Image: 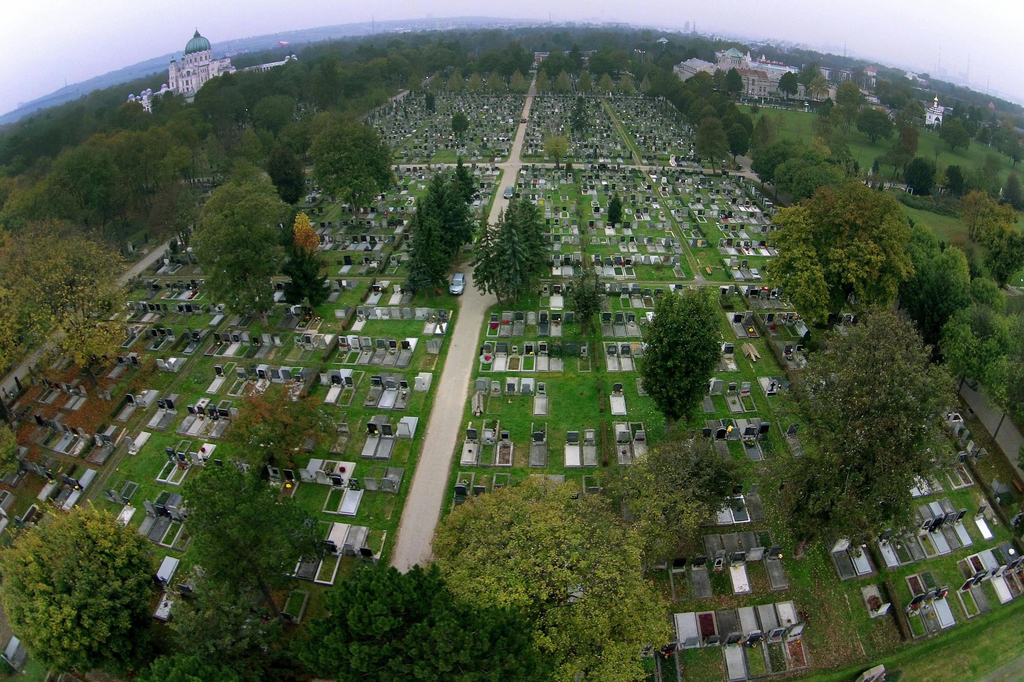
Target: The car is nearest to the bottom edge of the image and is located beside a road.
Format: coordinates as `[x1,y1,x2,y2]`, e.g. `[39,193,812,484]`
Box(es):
[448,267,467,291]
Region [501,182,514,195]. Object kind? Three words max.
vehicle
